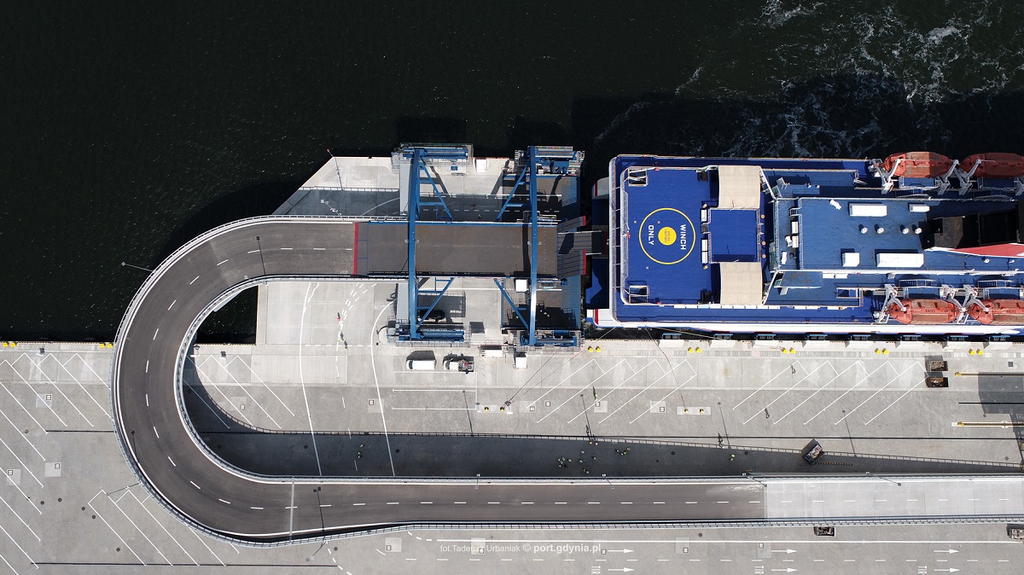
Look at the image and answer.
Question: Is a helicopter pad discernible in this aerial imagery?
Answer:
Yes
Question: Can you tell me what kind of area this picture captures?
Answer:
port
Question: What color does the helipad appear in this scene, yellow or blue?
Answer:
yellow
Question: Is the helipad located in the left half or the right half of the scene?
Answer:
right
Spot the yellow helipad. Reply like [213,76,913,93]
[639,208,695,264]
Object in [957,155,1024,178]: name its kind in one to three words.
boat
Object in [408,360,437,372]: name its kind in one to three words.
vehicle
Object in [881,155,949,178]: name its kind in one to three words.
boat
